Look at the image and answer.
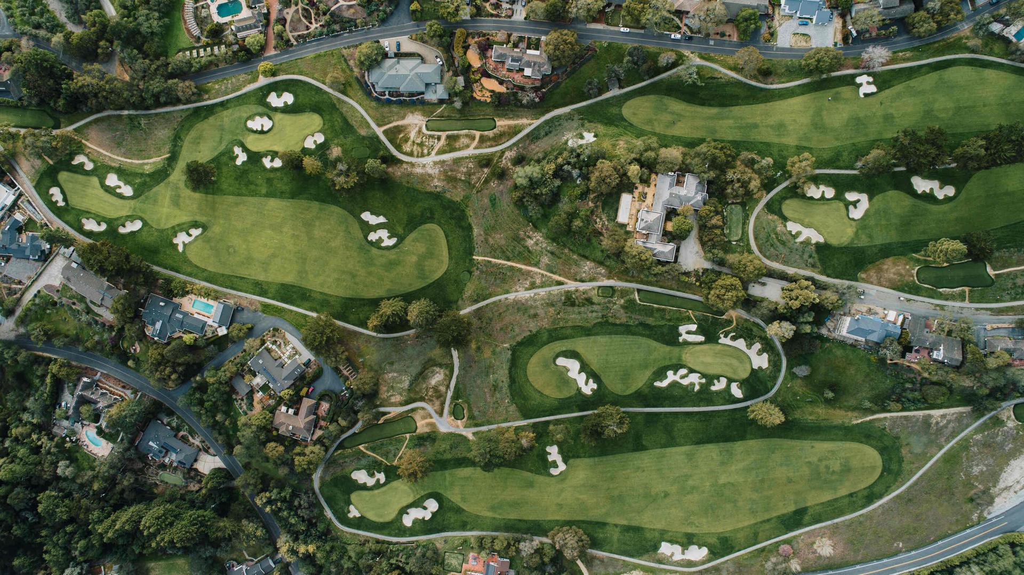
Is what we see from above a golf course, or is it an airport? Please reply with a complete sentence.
The picture captures a golf course.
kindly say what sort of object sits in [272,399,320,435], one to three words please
house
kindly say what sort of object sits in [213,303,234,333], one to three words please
building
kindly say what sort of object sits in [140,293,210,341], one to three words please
house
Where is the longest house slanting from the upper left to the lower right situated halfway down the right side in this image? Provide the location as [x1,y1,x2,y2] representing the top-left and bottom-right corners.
[905,316,963,362]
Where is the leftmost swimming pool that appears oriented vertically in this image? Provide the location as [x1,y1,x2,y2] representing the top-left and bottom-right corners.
[617,193,633,223]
